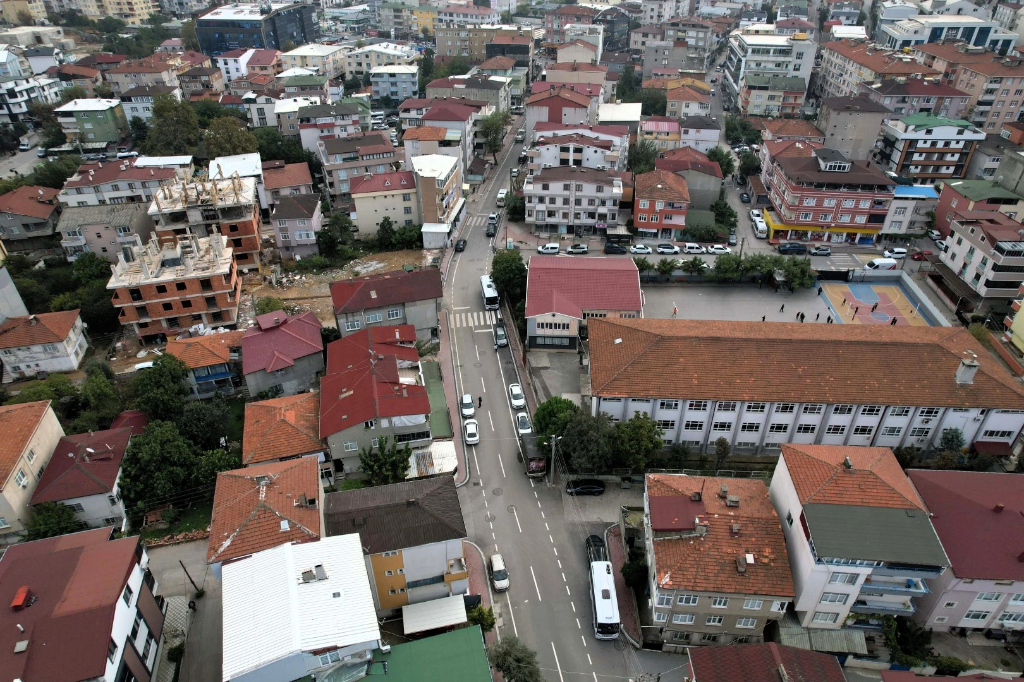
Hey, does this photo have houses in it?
Yes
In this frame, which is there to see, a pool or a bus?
bus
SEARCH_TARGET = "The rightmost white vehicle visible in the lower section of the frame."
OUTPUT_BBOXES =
[589,555,629,636]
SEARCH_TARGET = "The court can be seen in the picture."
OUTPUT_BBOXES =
[815,283,945,325]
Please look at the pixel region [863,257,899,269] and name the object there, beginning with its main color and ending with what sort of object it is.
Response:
white vehicle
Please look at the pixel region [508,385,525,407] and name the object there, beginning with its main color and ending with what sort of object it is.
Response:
white car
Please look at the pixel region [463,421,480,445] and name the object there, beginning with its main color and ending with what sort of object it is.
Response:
white car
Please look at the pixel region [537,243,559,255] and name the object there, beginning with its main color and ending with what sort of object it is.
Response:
white vehicle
